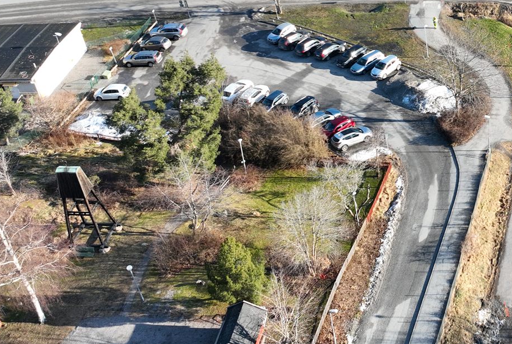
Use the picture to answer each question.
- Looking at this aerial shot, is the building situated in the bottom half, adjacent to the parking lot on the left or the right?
left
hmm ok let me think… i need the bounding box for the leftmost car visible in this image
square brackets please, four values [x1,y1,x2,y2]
[91,84,132,102]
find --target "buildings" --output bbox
[0,22,85,104]
[54,162,127,253]
[213,300,268,344]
